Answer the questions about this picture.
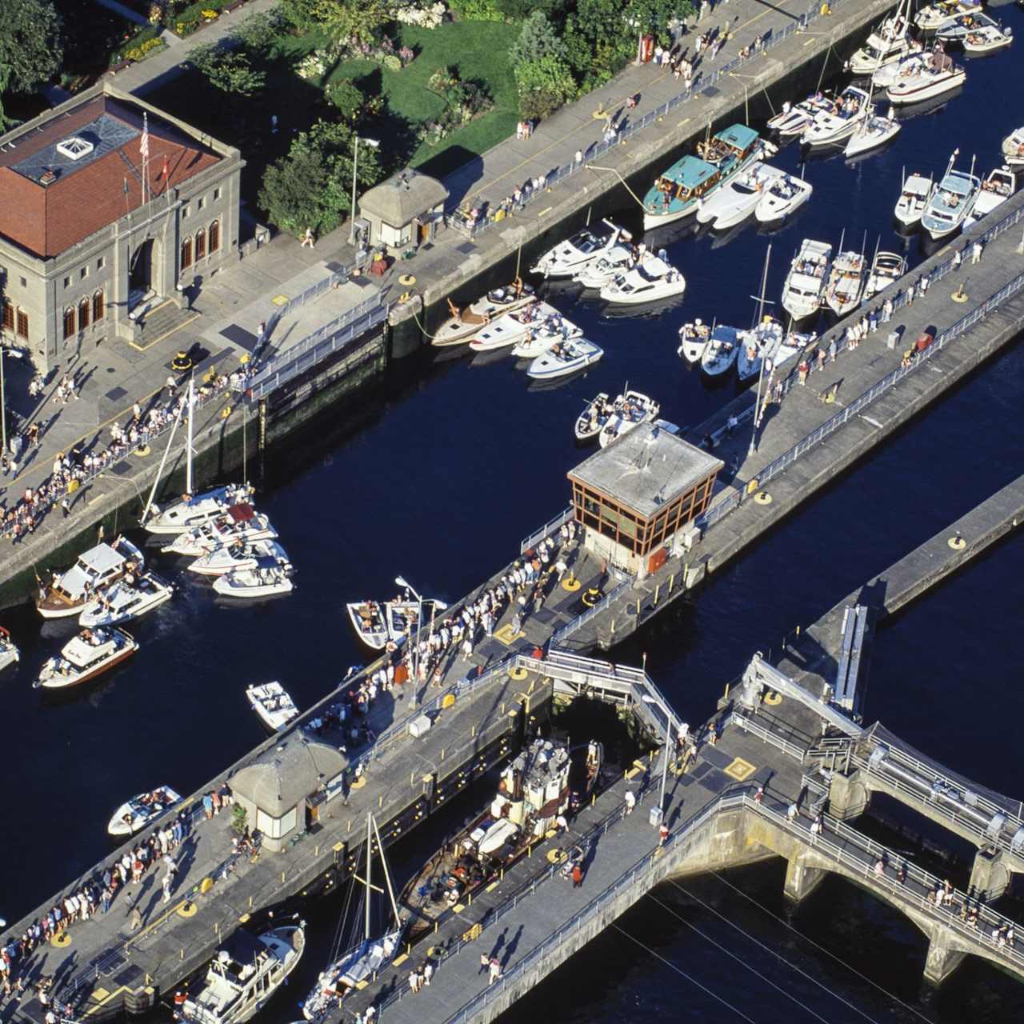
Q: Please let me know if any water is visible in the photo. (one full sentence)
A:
Yes, some water is visible.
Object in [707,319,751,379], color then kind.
blue boat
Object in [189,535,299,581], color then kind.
white boat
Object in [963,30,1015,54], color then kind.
white boat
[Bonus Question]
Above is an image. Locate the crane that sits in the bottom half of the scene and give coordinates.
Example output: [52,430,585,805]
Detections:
[738,650,868,750]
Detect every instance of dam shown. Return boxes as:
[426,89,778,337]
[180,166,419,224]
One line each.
[825,739,1024,916]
